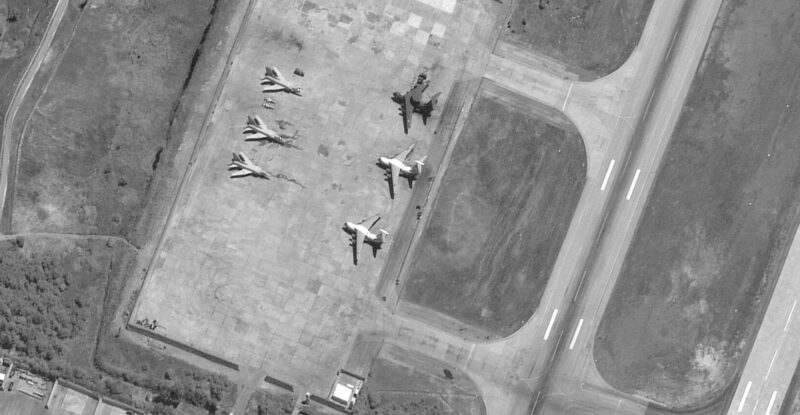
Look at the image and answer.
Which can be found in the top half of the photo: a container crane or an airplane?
airplane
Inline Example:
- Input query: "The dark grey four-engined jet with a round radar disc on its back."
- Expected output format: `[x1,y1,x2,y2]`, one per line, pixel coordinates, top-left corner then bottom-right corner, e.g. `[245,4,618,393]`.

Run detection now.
[395,79,441,127]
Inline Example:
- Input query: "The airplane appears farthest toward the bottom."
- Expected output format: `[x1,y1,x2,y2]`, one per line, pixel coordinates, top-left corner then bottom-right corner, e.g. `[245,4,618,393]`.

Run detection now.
[346,210,392,257]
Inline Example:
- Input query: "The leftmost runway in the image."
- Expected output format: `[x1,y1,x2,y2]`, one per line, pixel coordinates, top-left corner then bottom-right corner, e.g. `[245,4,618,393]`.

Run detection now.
[498,0,722,415]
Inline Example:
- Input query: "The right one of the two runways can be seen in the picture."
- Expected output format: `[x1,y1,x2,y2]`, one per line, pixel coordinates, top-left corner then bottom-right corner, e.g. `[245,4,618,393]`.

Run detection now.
[726,221,800,415]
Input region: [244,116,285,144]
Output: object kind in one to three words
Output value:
airplane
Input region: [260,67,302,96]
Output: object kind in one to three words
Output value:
airplane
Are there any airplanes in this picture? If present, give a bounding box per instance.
[395,79,441,127]
[260,67,302,96]
[228,151,270,179]
[244,116,285,144]
[380,143,428,191]
[346,210,392,257]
